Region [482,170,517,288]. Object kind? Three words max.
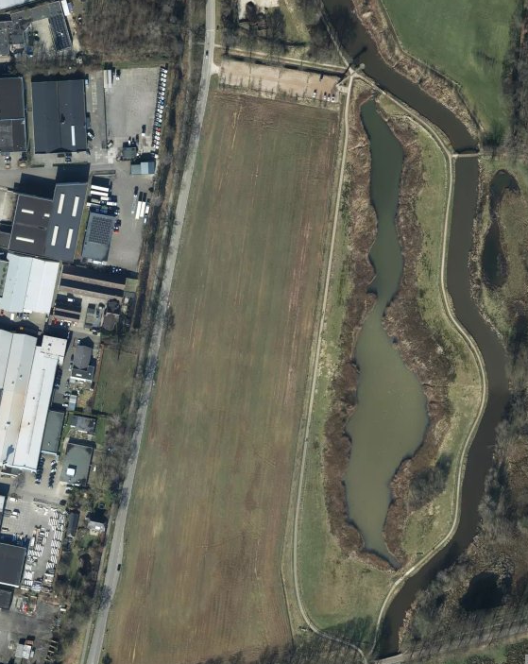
pond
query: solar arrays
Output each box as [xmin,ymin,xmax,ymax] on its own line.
[89,217,113,243]
[51,15,71,47]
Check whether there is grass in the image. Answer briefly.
Yes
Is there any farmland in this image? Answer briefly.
Yes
